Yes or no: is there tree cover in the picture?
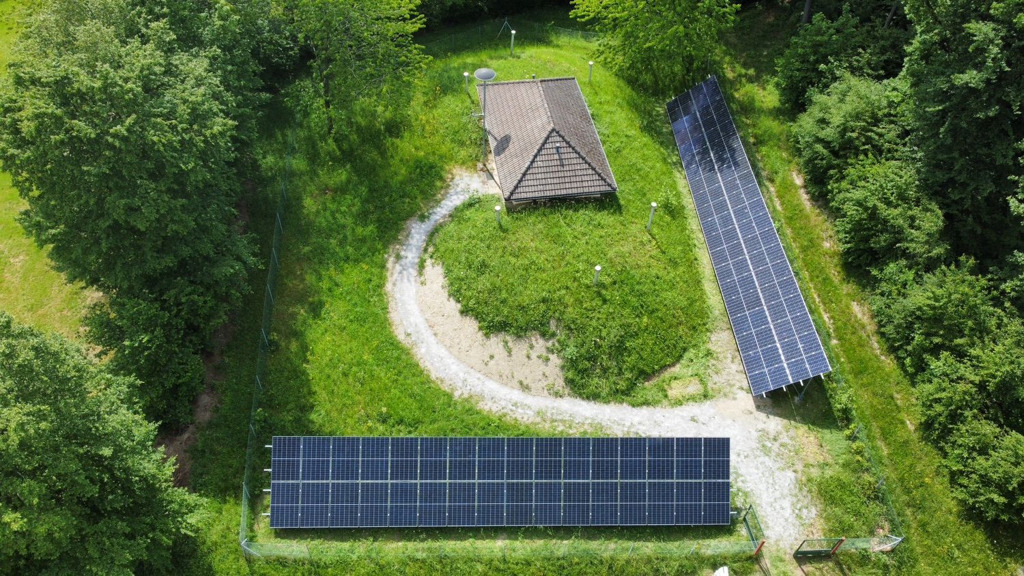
Yes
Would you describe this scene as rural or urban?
rural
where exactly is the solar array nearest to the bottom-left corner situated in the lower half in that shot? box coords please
[261,438,736,527]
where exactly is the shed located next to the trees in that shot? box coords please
[477,68,620,211]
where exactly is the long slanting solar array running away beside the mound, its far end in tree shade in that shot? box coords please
[666,77,830,401]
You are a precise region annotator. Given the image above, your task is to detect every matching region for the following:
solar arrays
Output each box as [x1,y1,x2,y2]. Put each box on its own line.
[666,77,830,401]
[261,438,736,527]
